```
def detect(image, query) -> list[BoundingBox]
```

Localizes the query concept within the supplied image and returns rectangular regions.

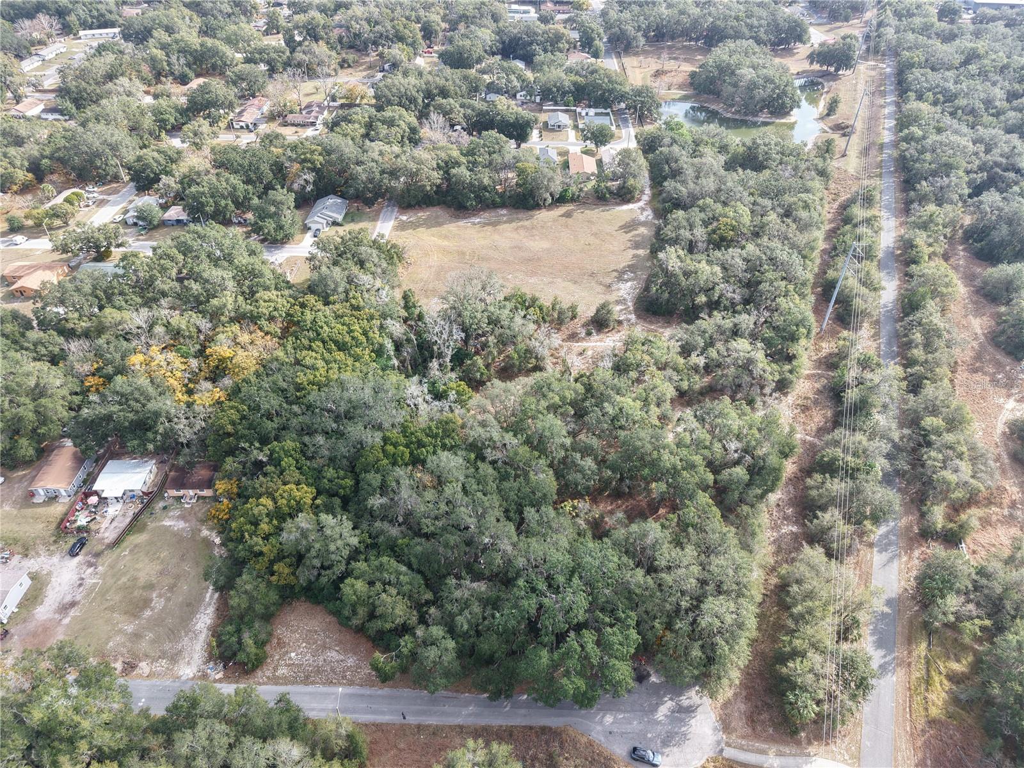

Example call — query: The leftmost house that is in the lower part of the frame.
[0,573,31,625]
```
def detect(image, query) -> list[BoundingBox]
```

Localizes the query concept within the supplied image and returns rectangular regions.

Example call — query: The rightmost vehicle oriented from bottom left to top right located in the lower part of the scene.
[62,536,89,560]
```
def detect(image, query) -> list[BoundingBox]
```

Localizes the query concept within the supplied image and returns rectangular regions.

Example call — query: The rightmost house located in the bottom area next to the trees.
[156,457,226,508]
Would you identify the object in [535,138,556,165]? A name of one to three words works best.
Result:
house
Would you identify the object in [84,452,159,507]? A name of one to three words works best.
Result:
house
